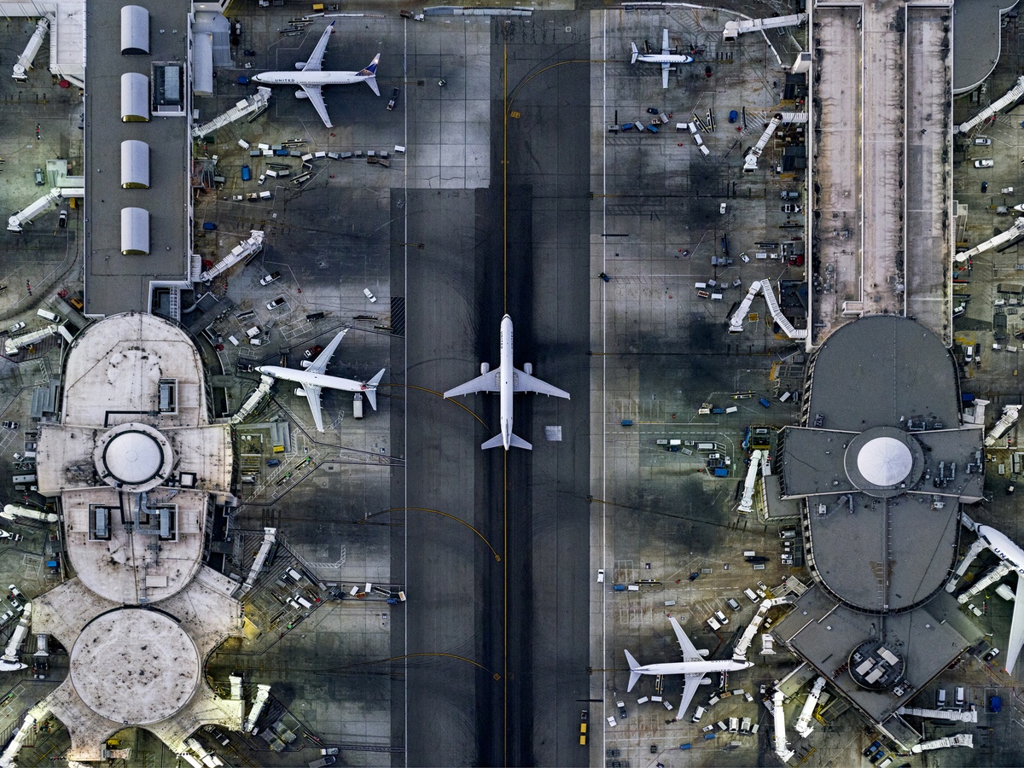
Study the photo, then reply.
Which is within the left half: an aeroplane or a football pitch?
aeroplane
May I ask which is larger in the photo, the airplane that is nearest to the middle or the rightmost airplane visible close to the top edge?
the airplane that is nearest to the middle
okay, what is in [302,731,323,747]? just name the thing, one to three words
work vehicle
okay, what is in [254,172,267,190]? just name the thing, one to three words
vehicle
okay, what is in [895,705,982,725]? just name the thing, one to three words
jet bridge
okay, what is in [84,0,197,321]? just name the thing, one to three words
building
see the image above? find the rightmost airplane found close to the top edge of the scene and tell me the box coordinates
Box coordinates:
[633,29,693,88]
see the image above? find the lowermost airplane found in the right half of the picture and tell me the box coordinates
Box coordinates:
[623,614,754,722]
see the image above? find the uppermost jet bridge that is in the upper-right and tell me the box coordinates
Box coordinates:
[721,14,805,46]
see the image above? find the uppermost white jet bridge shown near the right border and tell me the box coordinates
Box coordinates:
[954,77,1024,139]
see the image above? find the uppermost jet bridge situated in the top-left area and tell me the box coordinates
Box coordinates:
[5,13,56,82]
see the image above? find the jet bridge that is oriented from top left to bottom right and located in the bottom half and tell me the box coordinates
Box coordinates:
[185,735,233,768]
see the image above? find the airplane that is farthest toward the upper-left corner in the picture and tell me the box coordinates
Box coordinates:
[252,21,380,128]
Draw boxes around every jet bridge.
[955,559,1017,604]
[229,369,280,426]
[954,210,1024,267]
[721,14,805,46]
[984,399,1021,450]
[191,227,266,286]
[190,81,270,143]
[1,502,65,523]
[243,679,276,733]
[5,13,56,82]
[0,708,37,768]
[895,705,982,725]
[908,731,977,756]
[66,758,100,768]
[725,594,787,663]
[735,447,763,516]
[940,536,990,593]
[185,735,233,768]
[238,523,281,594]
[954,77,1024,139]
[0,602,34,663]
[768,690,800,767]
[727,278,805,341]
[0,322,75,358]
[741,112,805,172]
[794,674,828,744]
[2,188,84,230]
